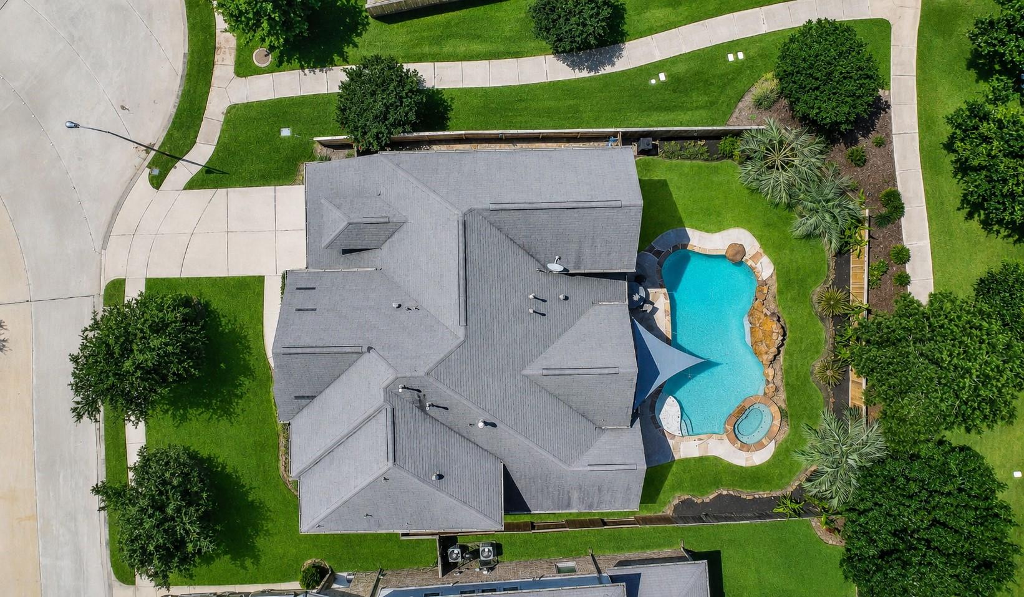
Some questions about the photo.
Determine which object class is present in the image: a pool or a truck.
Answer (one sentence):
Looking from above, you can make out a pool.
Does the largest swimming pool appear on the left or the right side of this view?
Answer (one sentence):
You can find the largest swimming pool on the right side of the picture.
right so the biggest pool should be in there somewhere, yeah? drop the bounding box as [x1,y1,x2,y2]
[648,242,766,443]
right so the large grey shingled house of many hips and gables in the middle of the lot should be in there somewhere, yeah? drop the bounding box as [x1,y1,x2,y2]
[272,145,647,535]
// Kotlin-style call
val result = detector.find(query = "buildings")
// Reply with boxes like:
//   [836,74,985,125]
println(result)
[272,145,647,535]
[360,557,711,597]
